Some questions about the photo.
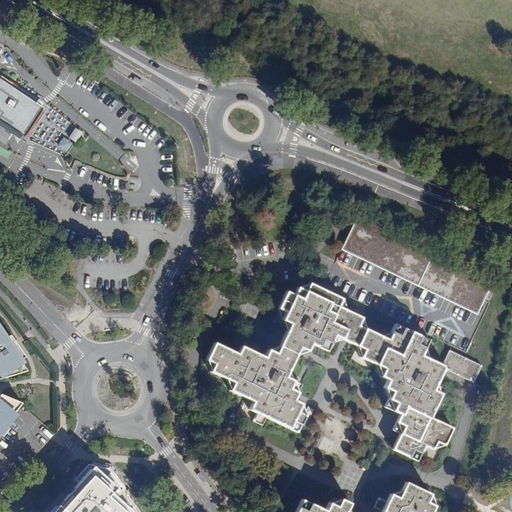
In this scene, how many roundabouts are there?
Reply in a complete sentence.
Altogether the scene contains 2 roundabouts.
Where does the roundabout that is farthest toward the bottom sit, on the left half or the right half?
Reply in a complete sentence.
The roundabout that is farthest toward the bottom is on the left side of the image.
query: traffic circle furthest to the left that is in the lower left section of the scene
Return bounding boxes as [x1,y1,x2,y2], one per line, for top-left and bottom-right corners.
[75,345,160,433]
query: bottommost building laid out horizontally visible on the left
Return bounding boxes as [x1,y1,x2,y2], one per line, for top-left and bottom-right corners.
[42,462,148,512]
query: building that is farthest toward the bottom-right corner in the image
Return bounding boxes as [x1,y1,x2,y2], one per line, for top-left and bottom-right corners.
[377,481,438,512]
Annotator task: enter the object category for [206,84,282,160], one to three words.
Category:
roundabout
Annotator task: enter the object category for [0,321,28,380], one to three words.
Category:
building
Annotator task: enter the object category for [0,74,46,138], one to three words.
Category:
building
